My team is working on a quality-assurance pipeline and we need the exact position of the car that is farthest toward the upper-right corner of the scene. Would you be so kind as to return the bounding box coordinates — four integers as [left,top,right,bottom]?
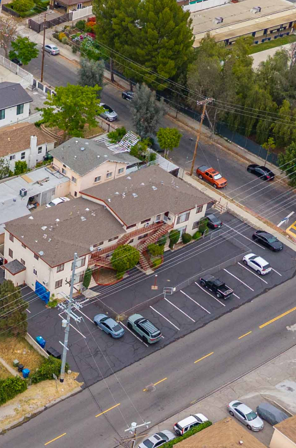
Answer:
[247,166,274,183]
